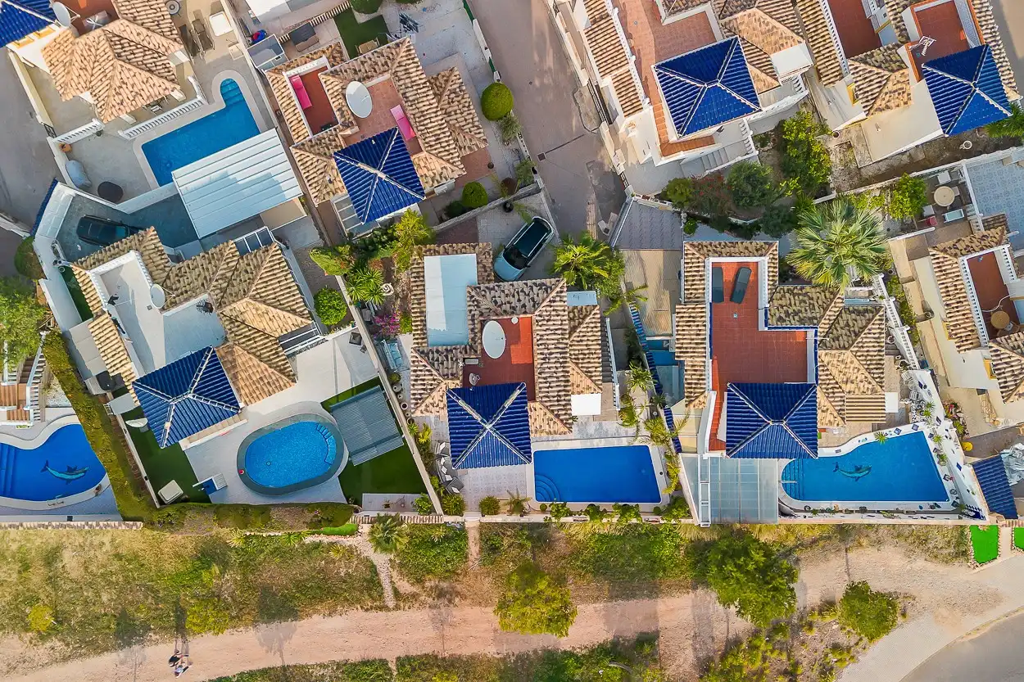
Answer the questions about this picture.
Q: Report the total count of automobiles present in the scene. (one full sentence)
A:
Looking from above, you can make out 2 automobiles.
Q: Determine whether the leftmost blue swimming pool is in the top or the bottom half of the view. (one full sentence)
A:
The leftmost blue swimming pool is in the bottom half of the image.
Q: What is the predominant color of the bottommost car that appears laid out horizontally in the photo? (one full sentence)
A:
The bottommost car that appears laid out horizontally is black.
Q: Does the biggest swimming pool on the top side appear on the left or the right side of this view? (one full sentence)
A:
The biggest swimming pool on the top side appears in the left half of the scene.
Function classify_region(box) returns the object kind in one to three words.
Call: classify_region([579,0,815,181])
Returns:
house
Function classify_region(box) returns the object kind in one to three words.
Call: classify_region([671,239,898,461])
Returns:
house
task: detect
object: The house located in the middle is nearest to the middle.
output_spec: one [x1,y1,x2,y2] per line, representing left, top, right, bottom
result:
[408,240,620,471]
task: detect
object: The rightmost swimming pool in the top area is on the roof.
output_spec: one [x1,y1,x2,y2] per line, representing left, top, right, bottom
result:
[130,68,294,207]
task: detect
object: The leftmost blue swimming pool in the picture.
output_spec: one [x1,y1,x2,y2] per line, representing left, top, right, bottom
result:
[0,415,111,509]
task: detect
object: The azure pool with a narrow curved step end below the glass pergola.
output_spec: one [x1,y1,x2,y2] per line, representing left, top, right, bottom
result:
[774,423,959,510]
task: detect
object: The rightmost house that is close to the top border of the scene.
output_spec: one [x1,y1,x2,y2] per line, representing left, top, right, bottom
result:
[795,0,1021,165]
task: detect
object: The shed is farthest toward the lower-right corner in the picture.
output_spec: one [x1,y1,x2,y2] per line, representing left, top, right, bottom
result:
[967,455,1018,519]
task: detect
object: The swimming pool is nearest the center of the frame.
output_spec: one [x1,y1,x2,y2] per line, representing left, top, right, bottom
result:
[528,439,668,509]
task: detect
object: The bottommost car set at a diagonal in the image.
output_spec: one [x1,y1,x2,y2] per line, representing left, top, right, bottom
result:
[493,213,555,282]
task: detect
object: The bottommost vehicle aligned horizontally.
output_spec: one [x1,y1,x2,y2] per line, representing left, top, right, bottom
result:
[76,214,149,246]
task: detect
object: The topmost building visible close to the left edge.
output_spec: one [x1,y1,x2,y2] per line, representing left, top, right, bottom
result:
[0,0,203,132]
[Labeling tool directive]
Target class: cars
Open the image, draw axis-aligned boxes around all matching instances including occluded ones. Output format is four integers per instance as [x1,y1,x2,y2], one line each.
[76,214,149,246]
[493,213,555,282]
